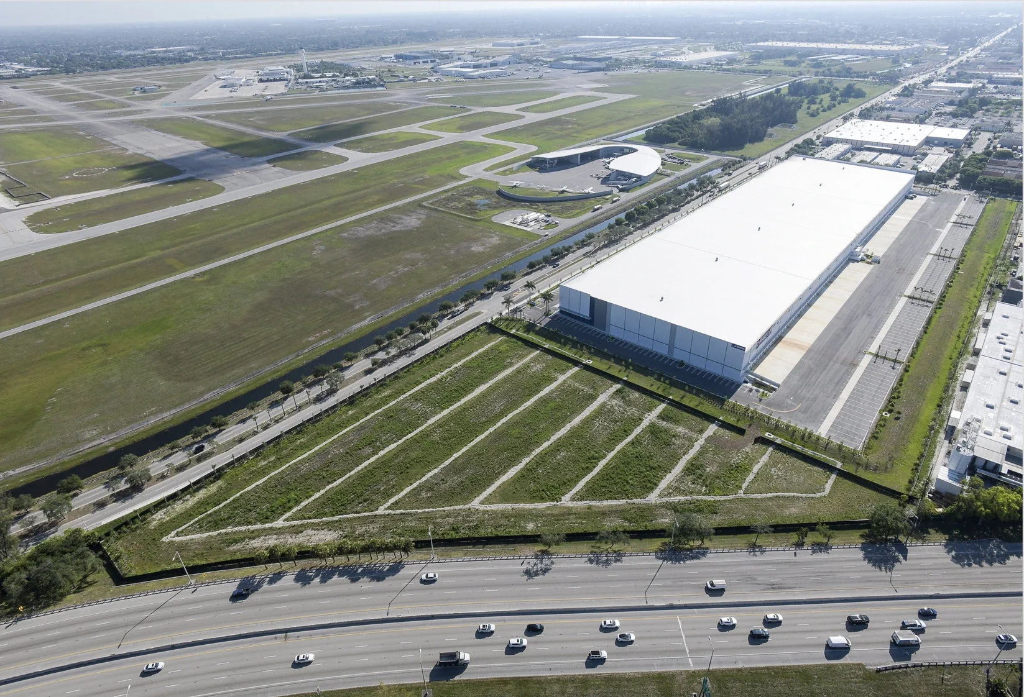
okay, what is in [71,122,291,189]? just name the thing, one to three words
runway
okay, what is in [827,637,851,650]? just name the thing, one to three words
vehicle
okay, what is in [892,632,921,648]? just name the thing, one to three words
vehicle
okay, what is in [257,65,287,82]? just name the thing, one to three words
building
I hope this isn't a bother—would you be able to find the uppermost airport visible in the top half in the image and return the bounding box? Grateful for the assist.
[0,36,789,273]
